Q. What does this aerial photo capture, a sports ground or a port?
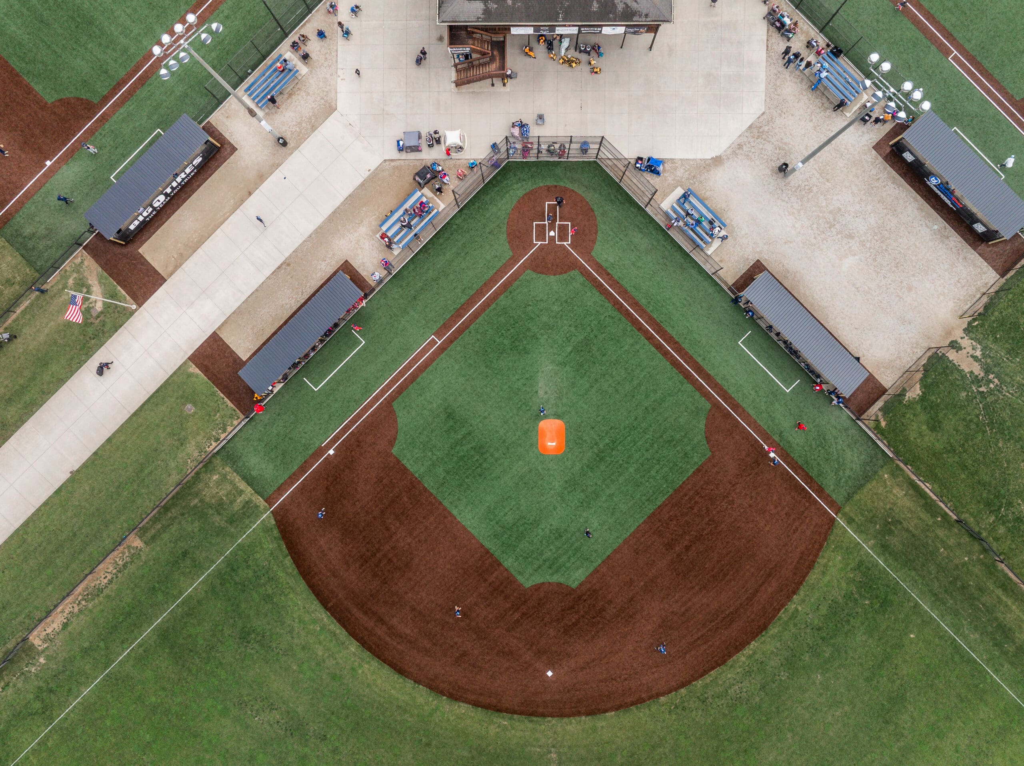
sports ground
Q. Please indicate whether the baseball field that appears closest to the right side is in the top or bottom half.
top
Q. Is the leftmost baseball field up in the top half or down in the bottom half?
top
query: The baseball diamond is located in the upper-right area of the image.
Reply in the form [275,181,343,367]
[789,0,1024,234]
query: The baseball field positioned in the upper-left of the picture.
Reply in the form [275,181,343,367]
[0,0,321,280]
